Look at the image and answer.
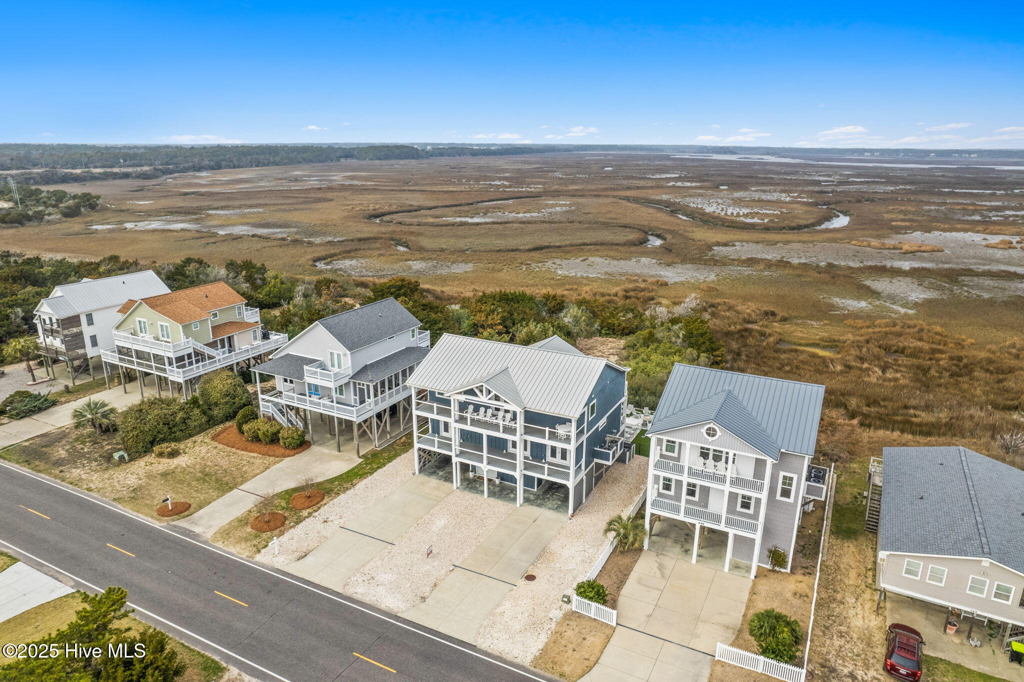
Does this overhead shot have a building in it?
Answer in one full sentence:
Yes, you can see a building in this photo.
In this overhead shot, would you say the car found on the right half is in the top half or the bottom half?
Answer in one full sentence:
The car found on the right half sits in the bottom half of the picture.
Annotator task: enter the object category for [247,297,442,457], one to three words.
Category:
house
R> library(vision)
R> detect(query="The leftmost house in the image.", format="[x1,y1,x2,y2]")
[25,270,170,386]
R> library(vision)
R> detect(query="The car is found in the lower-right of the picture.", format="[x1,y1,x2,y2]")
[886,625,928,682]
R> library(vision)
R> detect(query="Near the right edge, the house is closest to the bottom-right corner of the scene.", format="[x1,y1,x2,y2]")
[855,445,1024,653]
